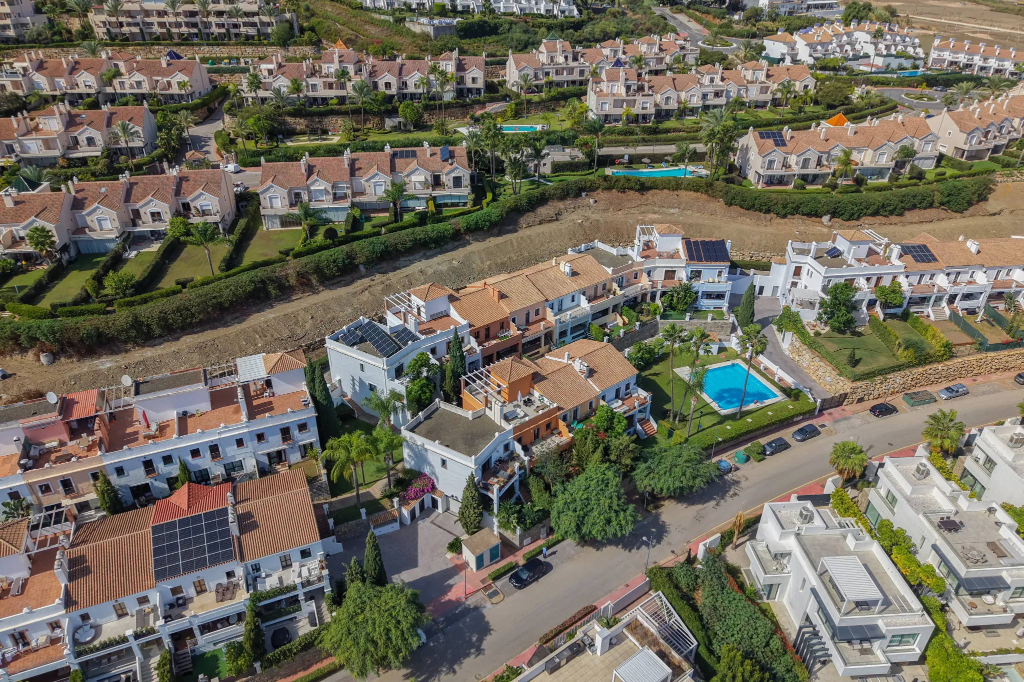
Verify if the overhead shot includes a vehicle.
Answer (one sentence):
Yes, a vehicle can be made out from above.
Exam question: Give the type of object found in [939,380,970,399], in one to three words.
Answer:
car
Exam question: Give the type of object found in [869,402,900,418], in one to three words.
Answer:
car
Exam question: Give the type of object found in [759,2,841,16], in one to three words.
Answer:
building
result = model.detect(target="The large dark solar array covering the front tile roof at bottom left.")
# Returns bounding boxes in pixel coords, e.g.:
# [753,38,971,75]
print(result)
[151,510,234,580]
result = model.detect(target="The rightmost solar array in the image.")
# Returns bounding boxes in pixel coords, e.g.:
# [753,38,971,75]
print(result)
[902,246,935,262]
